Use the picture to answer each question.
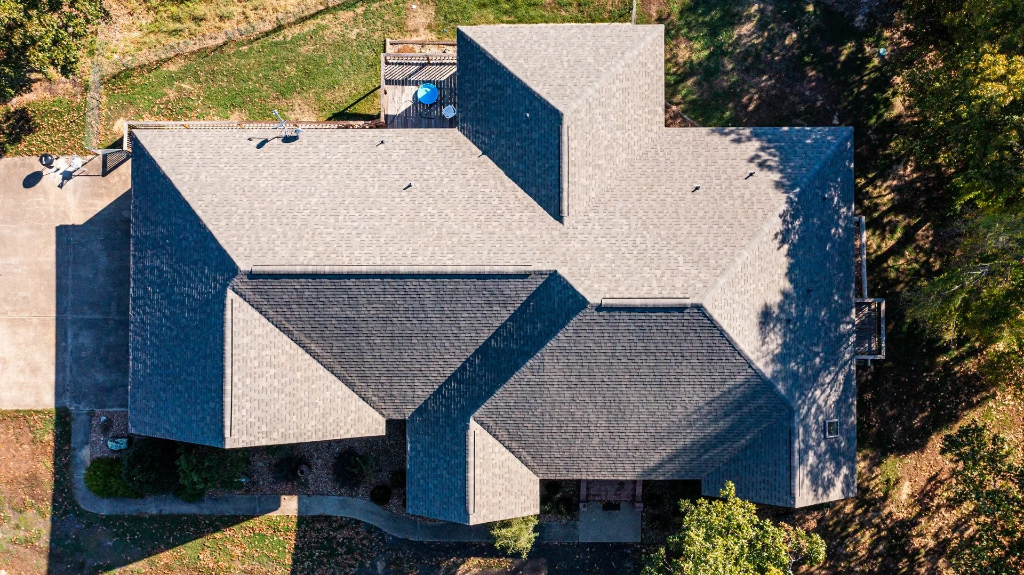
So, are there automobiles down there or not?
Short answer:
No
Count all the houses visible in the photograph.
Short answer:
1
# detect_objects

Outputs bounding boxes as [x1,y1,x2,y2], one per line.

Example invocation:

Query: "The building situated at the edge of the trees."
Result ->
[129,23,857,525]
